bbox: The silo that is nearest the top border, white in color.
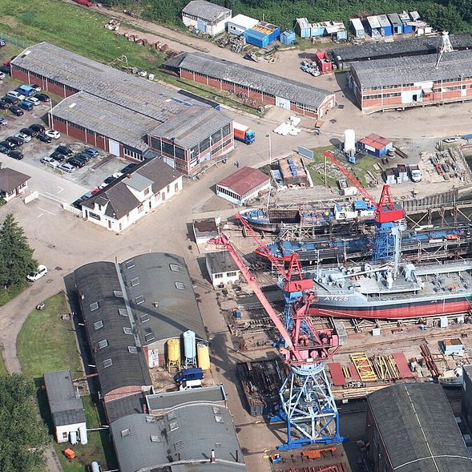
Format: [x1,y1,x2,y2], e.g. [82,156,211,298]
[343,125,355,157]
